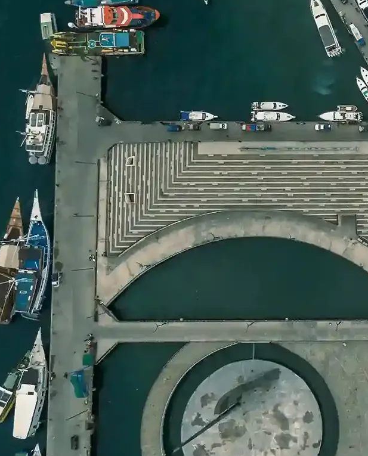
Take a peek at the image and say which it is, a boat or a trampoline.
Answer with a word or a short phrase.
boat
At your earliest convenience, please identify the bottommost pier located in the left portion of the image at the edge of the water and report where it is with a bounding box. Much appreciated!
[46,56,105,456]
